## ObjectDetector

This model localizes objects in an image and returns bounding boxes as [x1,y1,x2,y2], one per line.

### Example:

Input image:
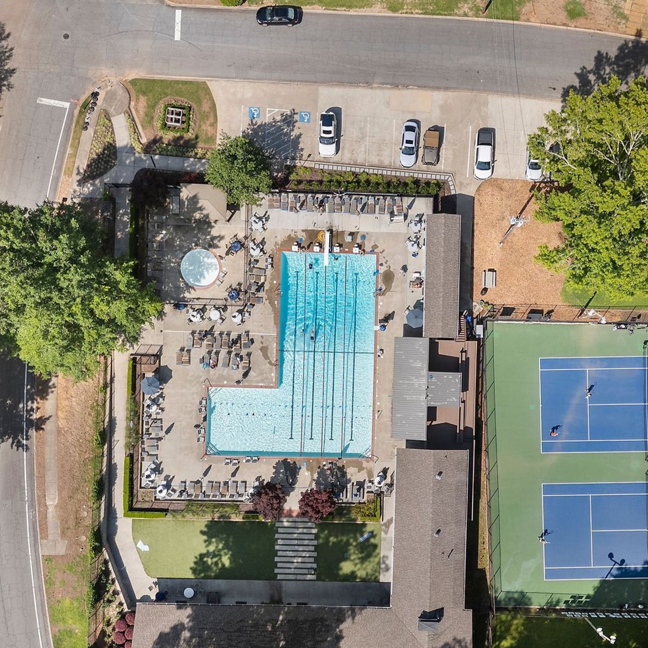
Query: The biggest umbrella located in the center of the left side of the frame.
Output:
[141,375,161,394]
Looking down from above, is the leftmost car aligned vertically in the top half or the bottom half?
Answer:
top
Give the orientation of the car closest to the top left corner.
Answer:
horizontally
